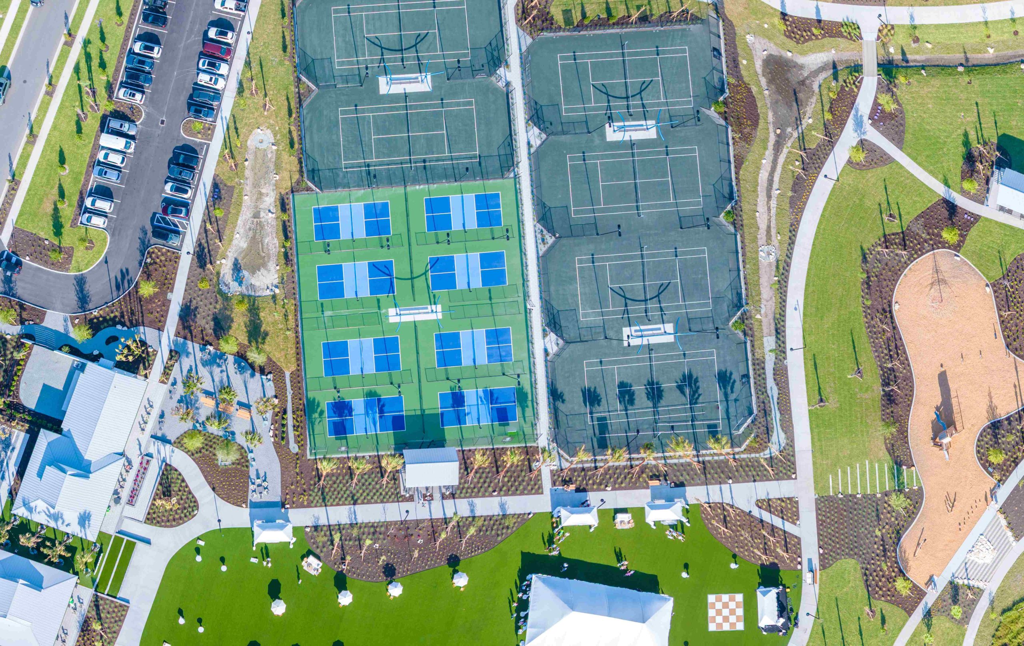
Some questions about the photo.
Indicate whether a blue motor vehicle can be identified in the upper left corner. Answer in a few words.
Yes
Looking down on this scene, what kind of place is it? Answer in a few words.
sports ground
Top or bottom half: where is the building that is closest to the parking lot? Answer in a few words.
bottom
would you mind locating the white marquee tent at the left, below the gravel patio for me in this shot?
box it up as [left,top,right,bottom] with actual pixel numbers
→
[253,519,296,543]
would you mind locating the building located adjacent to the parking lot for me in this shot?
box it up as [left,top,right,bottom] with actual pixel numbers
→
[12,359,151,542]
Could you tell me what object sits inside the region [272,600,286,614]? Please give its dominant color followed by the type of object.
white umbrella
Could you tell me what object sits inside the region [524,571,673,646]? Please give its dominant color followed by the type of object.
white tent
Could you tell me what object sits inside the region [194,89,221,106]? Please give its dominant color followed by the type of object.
blue car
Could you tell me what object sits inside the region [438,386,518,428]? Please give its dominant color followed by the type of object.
blue sports court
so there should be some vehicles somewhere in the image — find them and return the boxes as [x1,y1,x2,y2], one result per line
[194,89,221,106]
[126,71,153,86]
[200,59,228,75]
[86,196,115,213]
[0,77,12,104]
[151,228,184,246]
[198,73,225,89]
[81,213,109,228]
[98,132,135,152]
[165,183,192,197]
[99,150,126,165]
[127,56,154,72]
[0,256,23,270]
[142,11,169,27]
[134,42,162,58]
[215,0,247,16]
[166,165,199,182]
[188,105,216,121]
[172,151,200,166]
[203,43,232,60]
[162,204,189,219]
[119,88,146,104]
[94,167,121,183]
[141,0,168,12]
[208,27,235,44]
[109,119,137,135]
